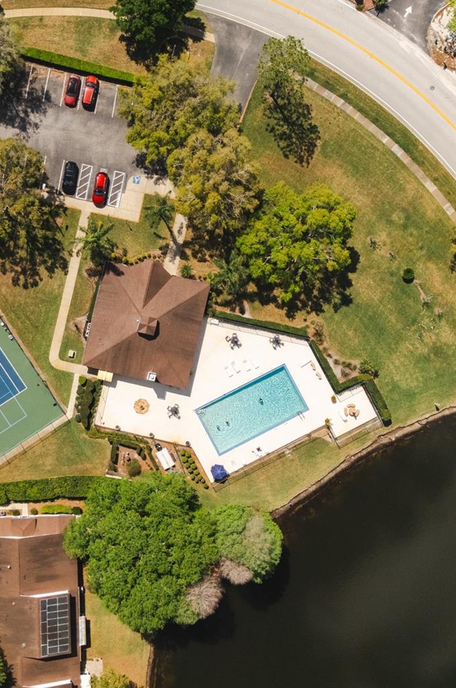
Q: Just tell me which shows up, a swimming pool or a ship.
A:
swimming pool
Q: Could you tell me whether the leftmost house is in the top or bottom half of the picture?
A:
bottom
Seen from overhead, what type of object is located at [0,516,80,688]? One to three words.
house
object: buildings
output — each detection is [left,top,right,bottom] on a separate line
[0,516,80,688]
[83,259,209,388]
